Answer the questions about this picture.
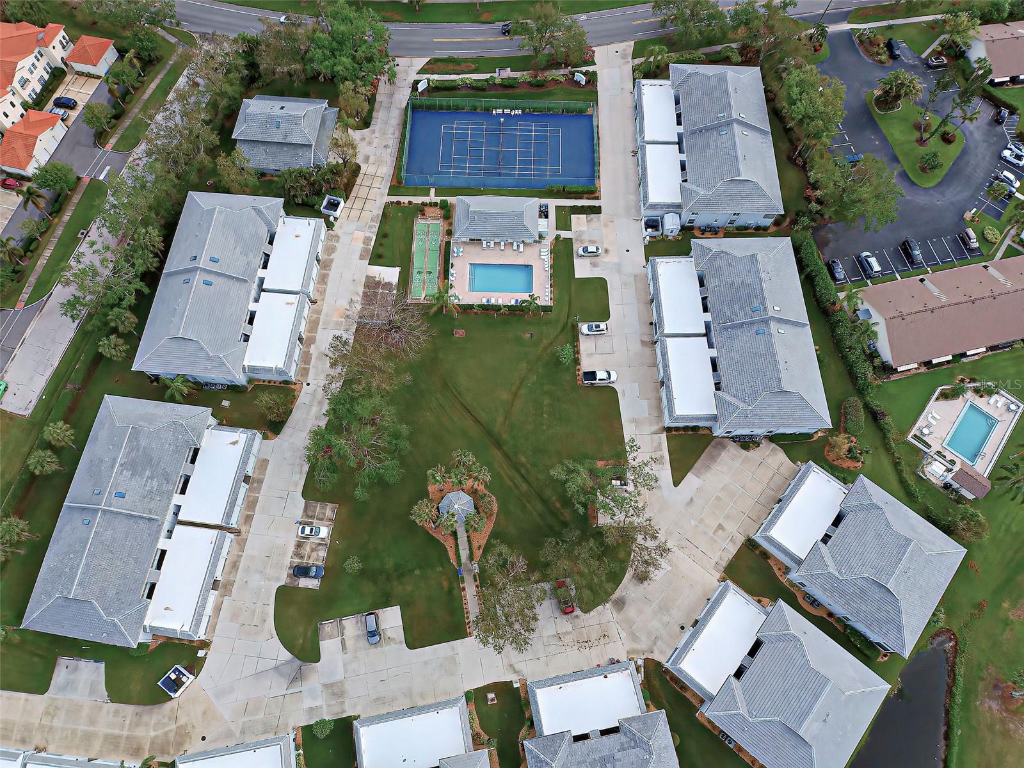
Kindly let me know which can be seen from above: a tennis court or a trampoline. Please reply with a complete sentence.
It is a tennis court that can be seen here.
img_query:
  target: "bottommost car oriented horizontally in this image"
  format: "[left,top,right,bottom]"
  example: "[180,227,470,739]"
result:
[291,564,325,578]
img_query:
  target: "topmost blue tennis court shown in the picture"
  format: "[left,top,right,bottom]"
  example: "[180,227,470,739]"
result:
[403,110,596,188]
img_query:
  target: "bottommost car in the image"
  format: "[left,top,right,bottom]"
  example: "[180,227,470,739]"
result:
[365,610,380,645]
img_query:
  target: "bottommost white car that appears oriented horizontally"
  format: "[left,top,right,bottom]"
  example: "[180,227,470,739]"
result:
[296,525,329,539]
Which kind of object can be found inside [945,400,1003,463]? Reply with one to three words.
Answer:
swimming pool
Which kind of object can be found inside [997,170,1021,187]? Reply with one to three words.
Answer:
car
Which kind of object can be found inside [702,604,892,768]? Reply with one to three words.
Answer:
building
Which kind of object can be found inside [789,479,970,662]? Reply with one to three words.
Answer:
building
